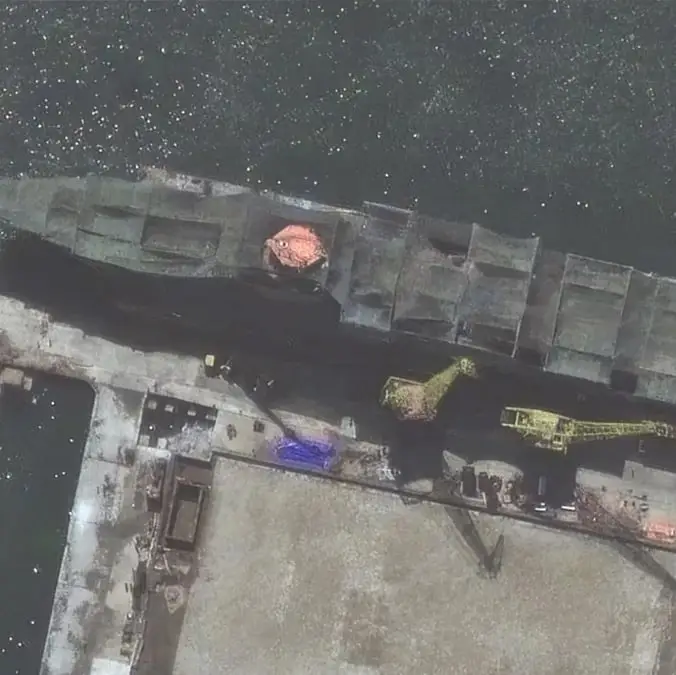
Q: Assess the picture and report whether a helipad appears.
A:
No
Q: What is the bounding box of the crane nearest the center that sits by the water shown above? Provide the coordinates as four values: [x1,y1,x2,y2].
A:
[383,360,477,425]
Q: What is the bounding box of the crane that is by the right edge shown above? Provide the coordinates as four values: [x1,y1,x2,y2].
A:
[500,406,676,456]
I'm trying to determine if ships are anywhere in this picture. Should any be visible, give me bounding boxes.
[0,167,676,403]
